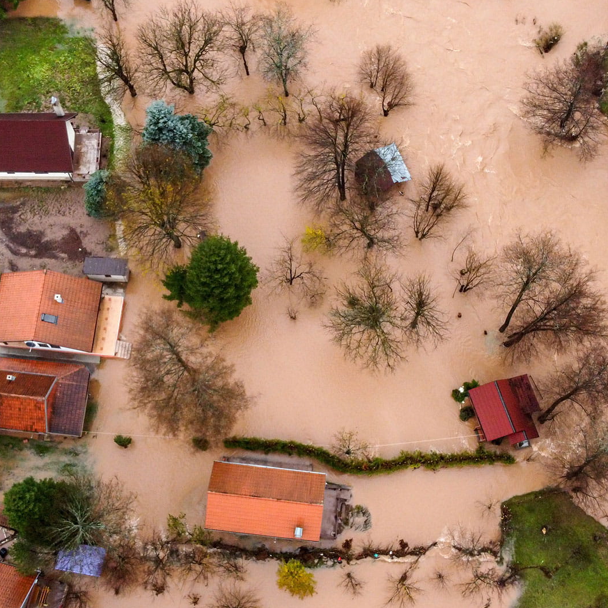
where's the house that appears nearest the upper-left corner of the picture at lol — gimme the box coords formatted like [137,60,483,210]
[0,98,101,185]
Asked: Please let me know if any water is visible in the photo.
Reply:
Yes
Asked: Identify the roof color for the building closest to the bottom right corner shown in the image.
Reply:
red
